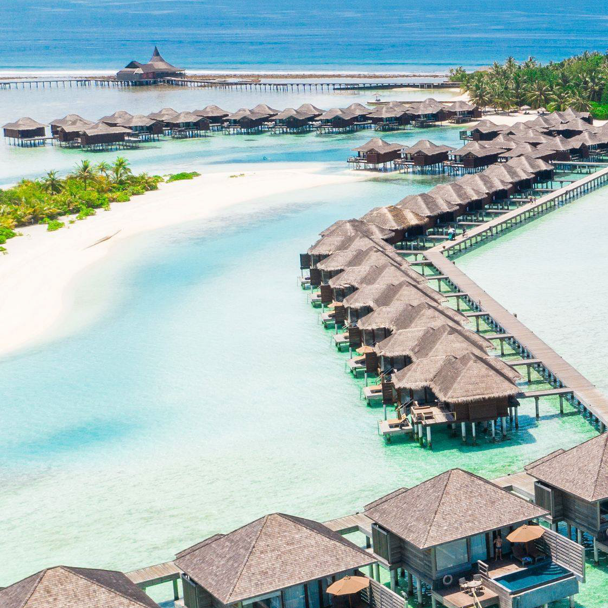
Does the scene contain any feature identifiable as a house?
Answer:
Yes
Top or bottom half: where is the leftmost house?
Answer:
top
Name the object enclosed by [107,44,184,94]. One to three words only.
building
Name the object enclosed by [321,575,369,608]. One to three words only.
umbrella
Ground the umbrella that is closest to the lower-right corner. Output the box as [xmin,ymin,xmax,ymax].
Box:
[501,523,545,567]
